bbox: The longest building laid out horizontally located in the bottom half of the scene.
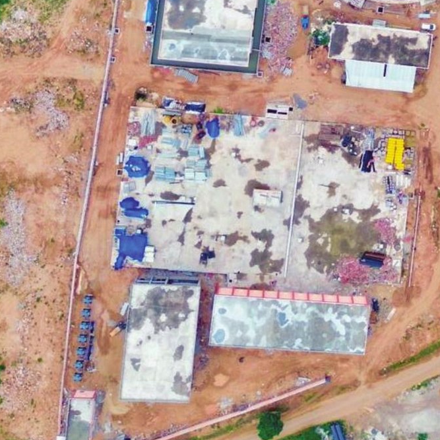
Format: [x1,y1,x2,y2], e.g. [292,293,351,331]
[208,279,373,355]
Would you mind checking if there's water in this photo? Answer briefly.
Yes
